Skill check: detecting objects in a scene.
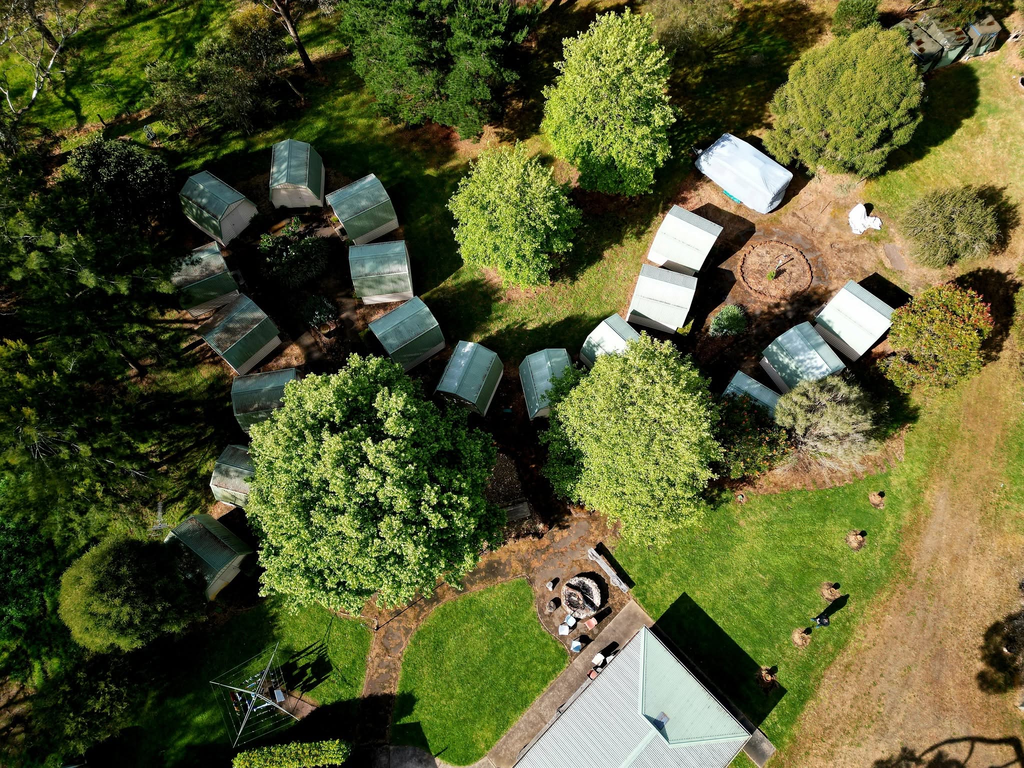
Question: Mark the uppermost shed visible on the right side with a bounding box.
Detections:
[650,204,723,276]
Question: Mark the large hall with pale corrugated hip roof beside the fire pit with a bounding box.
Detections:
[508,621,755,768]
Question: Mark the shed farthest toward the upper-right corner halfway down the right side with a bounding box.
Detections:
[811,279,900,359]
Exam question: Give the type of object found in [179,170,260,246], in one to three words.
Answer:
shed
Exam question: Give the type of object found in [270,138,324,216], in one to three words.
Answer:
shed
